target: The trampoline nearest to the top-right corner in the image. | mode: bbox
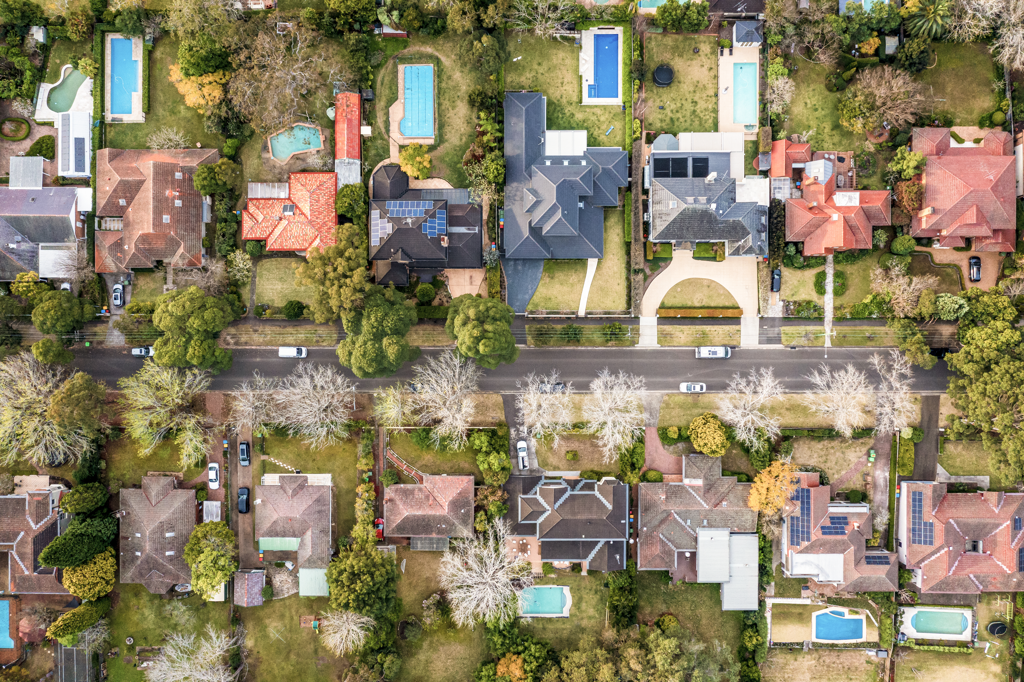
[654,61,677,87]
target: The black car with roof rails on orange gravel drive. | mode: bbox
[967,256,983,283]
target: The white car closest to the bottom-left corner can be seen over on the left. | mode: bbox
[207,463,221,489]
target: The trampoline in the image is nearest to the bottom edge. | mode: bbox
[986,617,1015,642]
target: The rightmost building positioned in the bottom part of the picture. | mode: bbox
[894,479,1024,594]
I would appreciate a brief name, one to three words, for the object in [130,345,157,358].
vehicle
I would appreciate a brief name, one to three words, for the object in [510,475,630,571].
house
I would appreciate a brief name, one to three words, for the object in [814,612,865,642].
swimming pool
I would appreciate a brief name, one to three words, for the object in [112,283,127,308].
car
